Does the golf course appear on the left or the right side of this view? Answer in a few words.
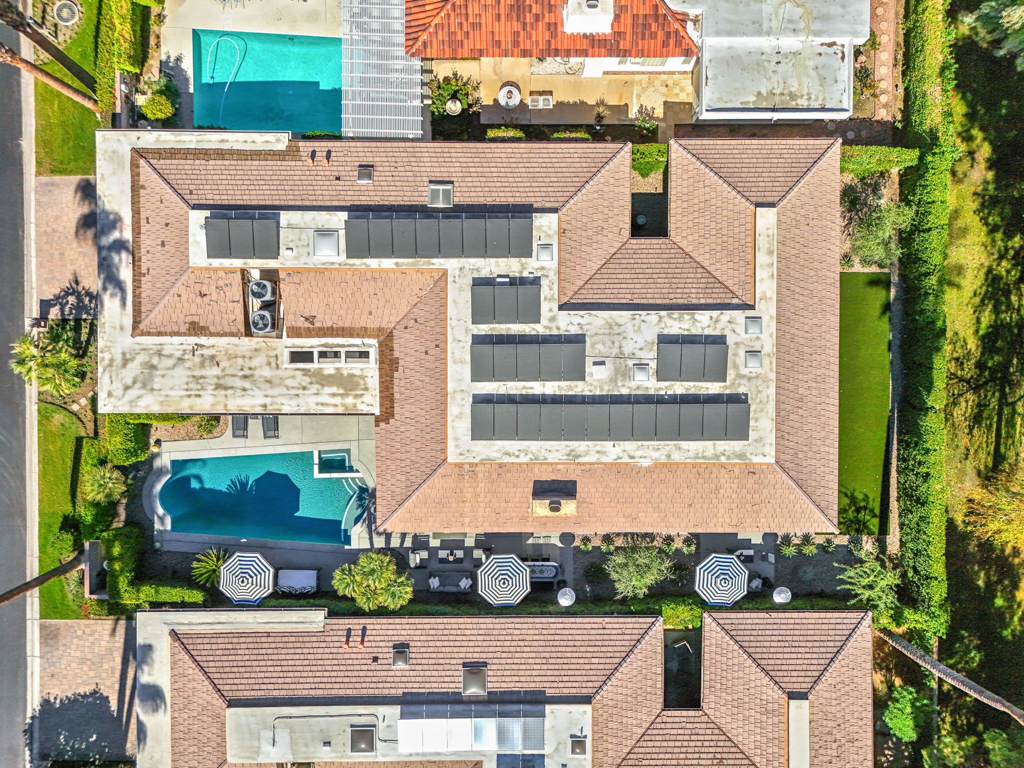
right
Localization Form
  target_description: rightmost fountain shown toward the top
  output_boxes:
[498,83,520,107]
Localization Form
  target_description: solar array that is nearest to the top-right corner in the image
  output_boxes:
[656,344,729,382]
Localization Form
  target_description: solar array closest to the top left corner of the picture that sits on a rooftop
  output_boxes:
[204,219,280,259]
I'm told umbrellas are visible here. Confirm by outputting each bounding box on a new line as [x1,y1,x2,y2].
[479,552,529,603]
[693,551,745,604]
[223,550,275,602]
